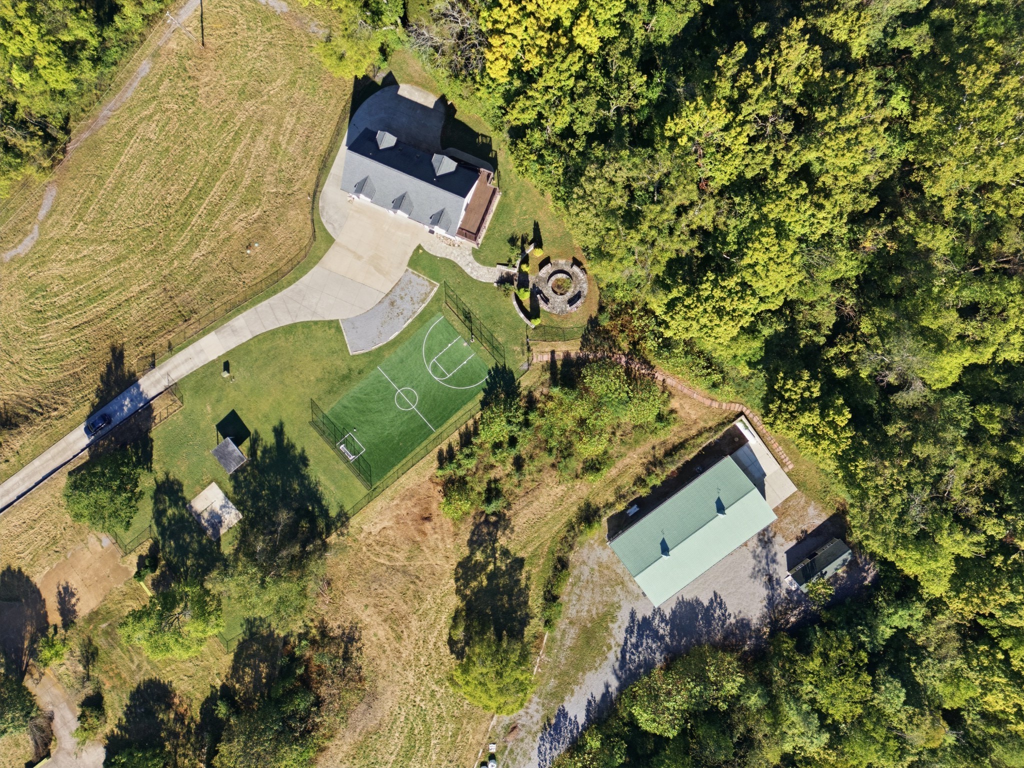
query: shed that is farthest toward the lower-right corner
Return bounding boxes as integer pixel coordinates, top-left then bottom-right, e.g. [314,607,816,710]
[788,538,854,594]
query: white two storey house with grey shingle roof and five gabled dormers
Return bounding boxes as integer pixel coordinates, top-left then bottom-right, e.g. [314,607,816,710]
[338,123,480,240]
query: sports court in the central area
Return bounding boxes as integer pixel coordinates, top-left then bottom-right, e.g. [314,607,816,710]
[327,313,503,487]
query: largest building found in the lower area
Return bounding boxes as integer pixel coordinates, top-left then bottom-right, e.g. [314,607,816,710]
[609,456,777,607]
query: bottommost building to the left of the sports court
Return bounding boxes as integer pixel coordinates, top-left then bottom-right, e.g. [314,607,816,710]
[210,437,251,474]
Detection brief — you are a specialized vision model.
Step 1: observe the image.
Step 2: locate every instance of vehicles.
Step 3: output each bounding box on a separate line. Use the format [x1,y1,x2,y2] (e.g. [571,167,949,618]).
[81,412,110,436]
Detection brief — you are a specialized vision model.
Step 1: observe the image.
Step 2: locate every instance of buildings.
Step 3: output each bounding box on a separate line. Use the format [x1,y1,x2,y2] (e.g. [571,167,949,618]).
[788,538,854,594]
[210,437,251,474]
[609,456,777,607]
[338,123,480,240]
